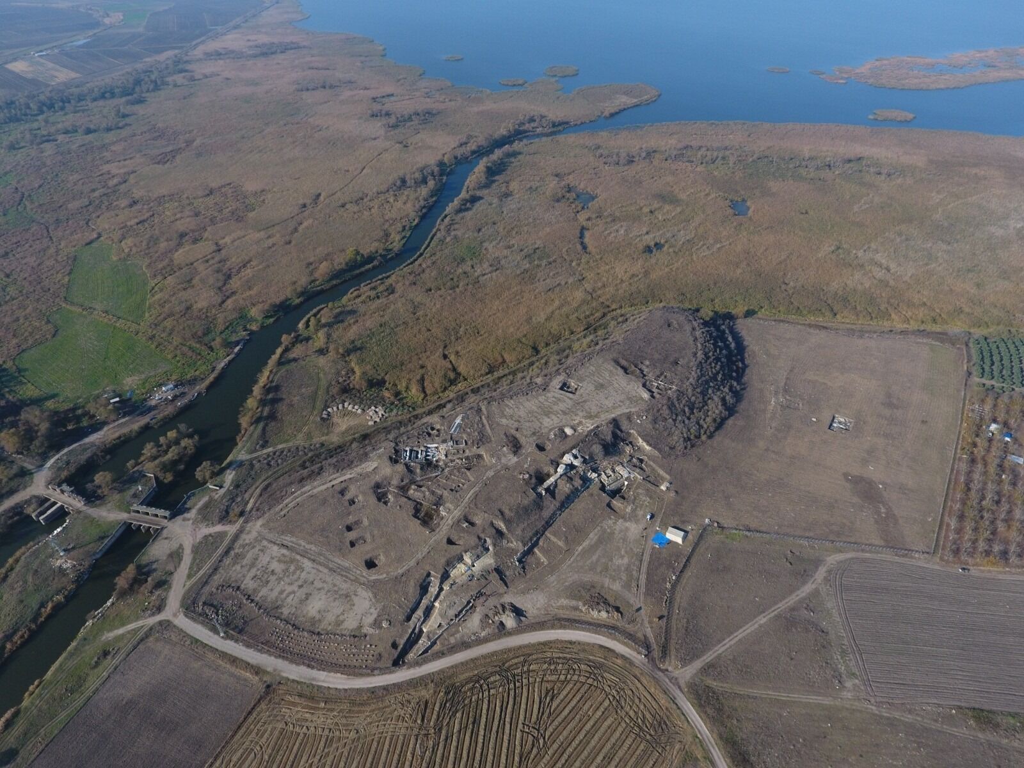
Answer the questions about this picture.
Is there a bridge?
Yes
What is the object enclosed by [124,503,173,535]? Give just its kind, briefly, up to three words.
bridge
